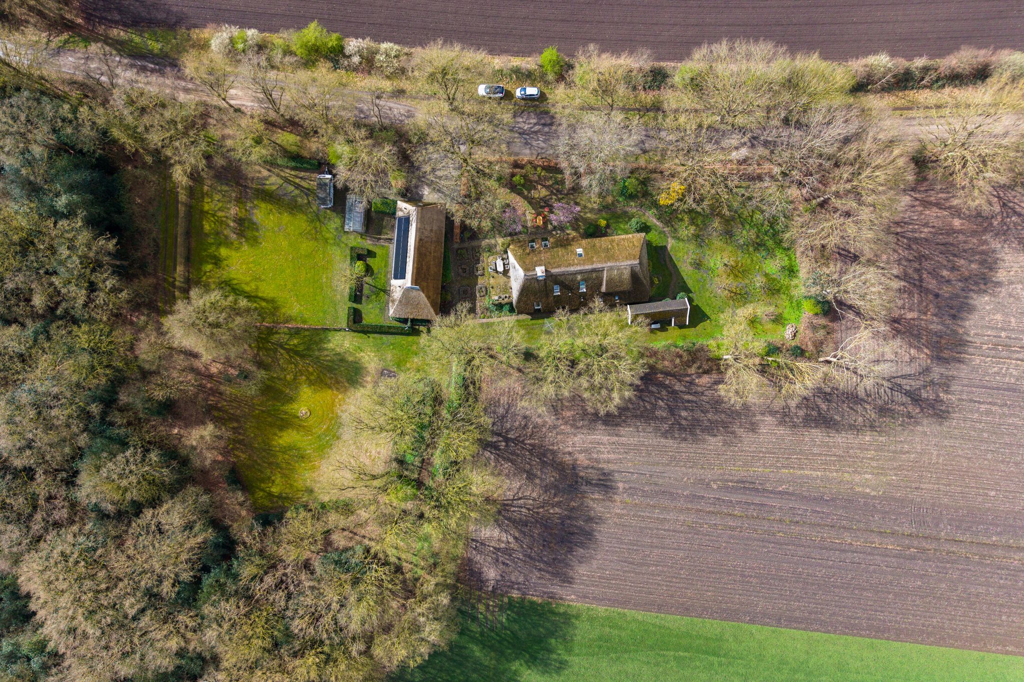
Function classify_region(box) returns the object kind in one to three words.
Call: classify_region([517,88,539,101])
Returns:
vehicle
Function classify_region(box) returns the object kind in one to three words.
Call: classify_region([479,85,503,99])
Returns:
car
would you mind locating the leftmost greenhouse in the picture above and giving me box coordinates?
[344,195,369,234]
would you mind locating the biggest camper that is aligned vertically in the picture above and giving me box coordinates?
[317,169,334,208]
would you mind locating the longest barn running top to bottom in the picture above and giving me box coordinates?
[390,201,446,318]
